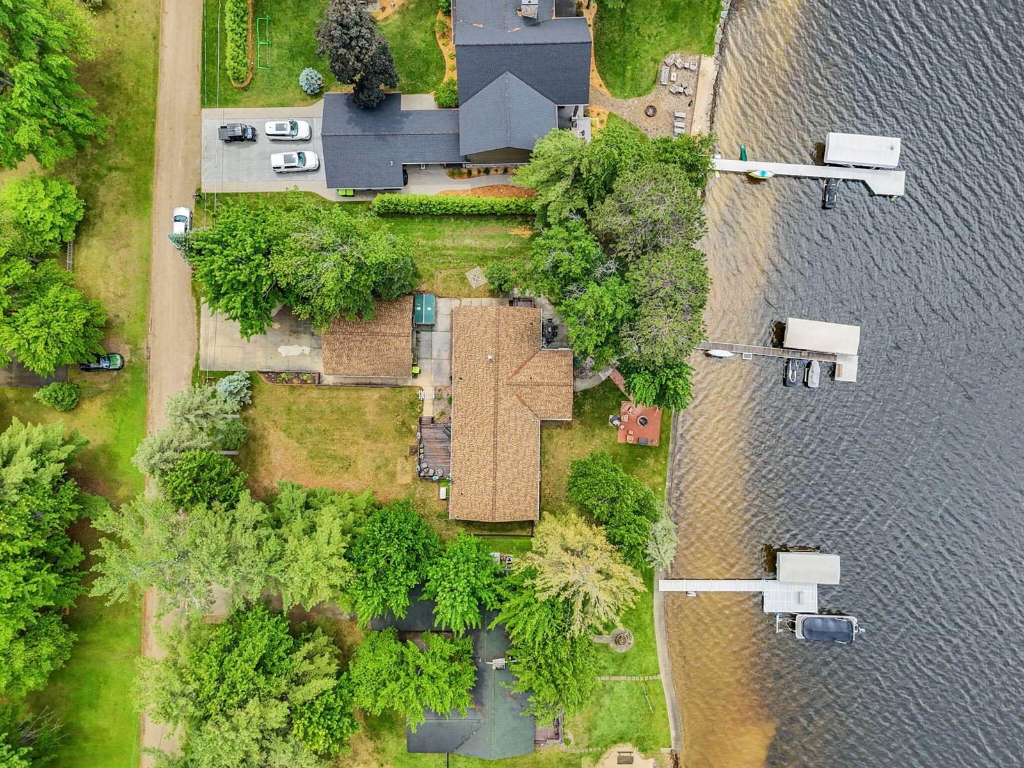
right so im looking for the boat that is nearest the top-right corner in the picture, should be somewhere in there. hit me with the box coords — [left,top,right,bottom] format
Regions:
[821,180,835,209]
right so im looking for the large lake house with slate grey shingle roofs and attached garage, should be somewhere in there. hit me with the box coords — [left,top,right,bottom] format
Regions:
[321,0,593,191]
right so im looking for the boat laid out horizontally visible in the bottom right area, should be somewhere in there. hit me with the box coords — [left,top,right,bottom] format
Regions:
[794,614,866,642]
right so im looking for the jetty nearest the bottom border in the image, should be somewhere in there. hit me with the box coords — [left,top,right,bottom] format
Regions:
[666,577,820,614]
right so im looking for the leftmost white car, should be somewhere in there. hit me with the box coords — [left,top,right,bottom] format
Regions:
[171,204,193,235]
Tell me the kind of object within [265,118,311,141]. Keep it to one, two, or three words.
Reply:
car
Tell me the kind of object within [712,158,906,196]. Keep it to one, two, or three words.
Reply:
pier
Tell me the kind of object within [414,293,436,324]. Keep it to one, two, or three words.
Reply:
shed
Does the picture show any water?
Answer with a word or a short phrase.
Yes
